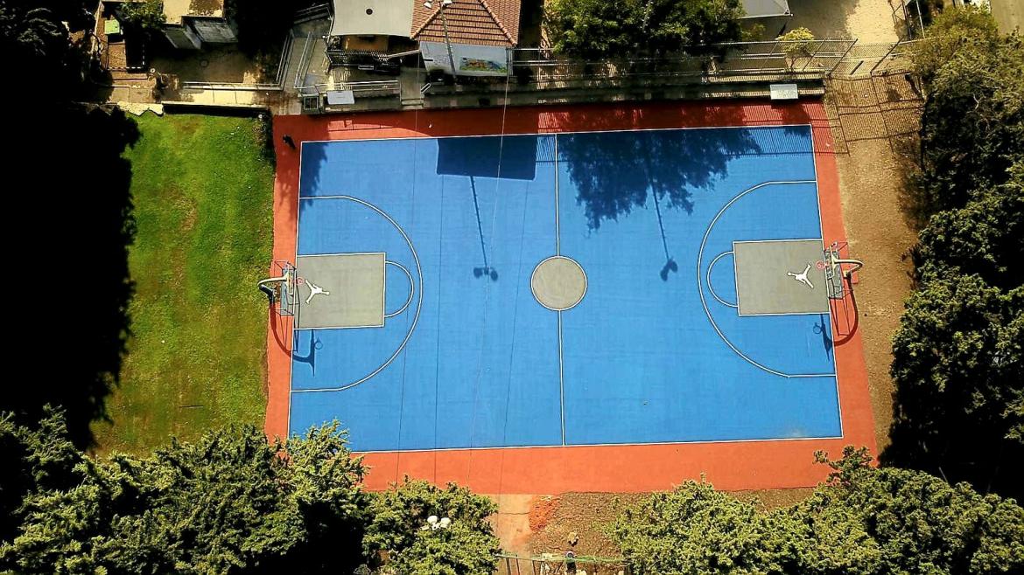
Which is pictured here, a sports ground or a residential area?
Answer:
sports ground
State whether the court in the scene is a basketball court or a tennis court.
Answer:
basketball court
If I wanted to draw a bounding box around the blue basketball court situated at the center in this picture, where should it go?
[263,99,877,499]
